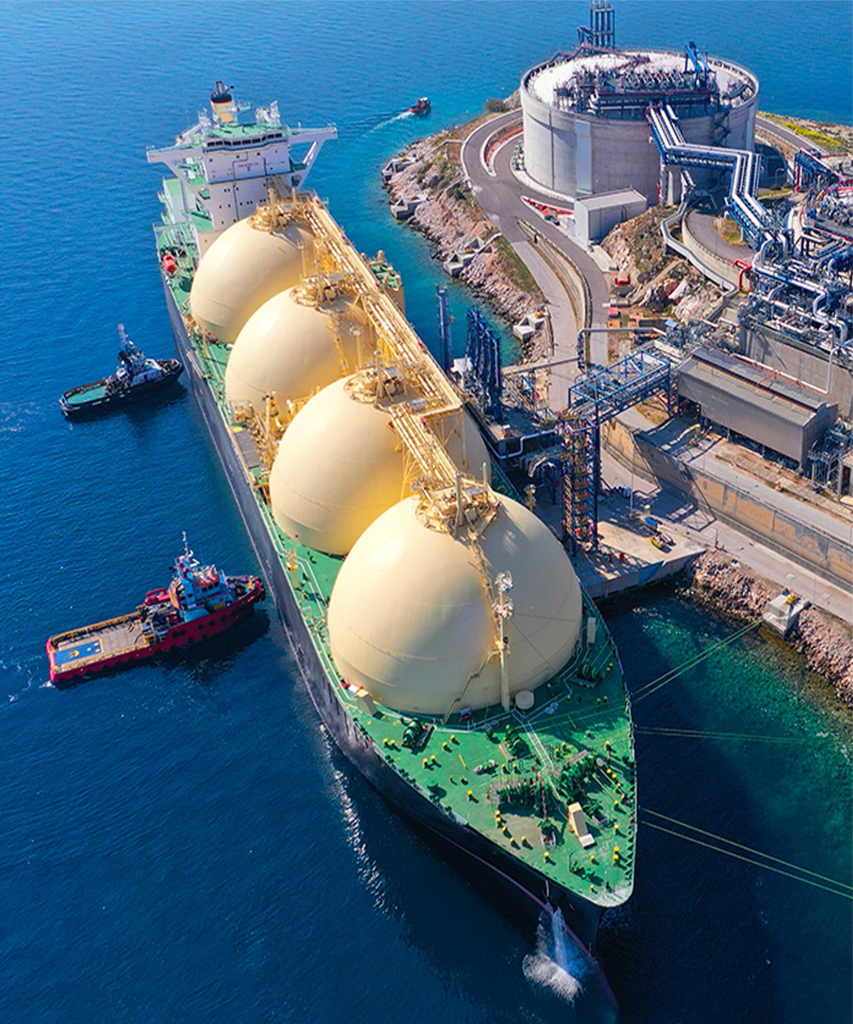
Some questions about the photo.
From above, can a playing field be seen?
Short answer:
No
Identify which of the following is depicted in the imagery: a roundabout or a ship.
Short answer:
ship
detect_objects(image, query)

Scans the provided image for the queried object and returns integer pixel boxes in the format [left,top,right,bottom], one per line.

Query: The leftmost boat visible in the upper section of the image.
[60,322,187,420]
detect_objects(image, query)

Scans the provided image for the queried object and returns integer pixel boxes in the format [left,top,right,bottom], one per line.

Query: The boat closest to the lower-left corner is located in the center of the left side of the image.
[46,523,271,684]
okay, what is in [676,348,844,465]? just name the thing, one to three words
shed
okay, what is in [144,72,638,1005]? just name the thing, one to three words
ship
